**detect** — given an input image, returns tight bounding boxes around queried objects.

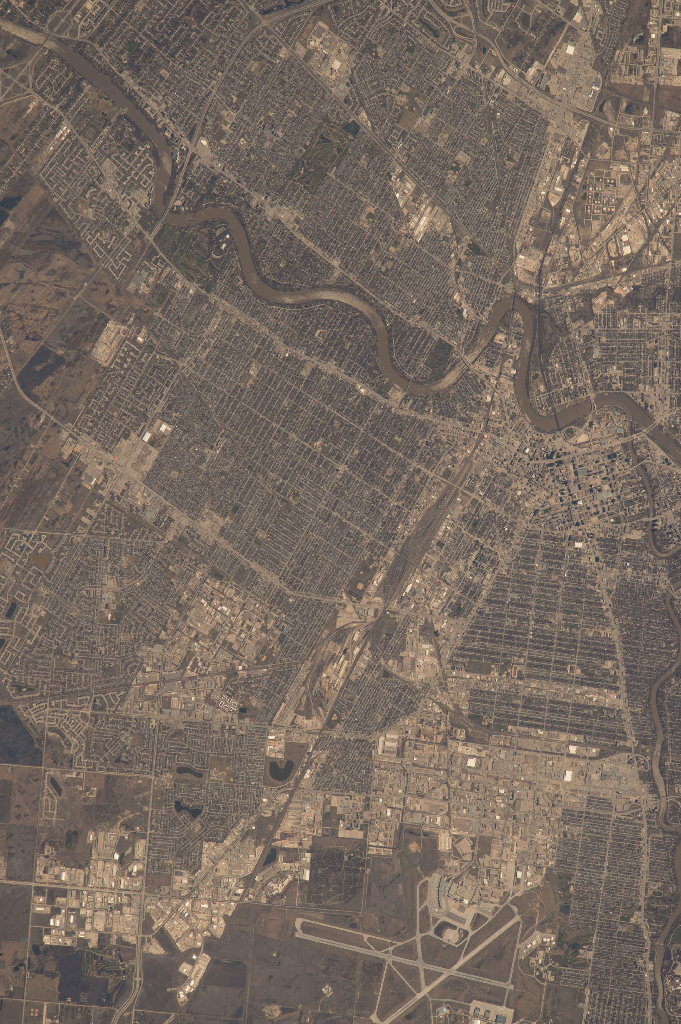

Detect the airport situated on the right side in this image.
[271,860,558,1024]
